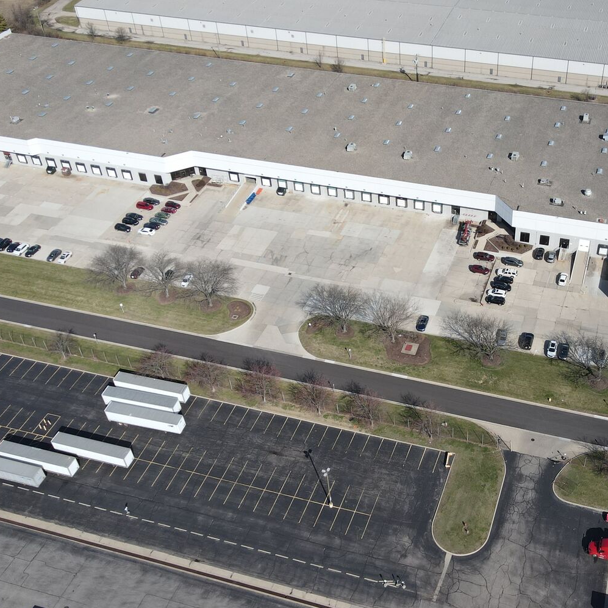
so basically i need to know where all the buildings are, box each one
[0,26,608,293]
[73,0,608,85]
